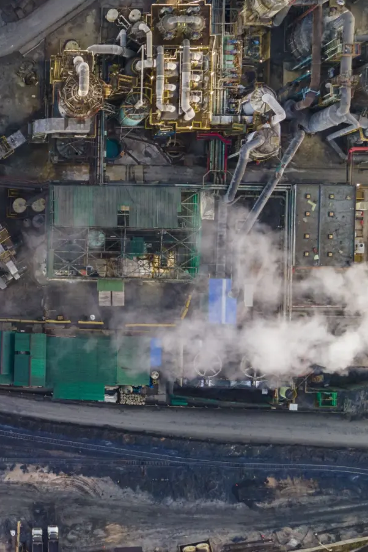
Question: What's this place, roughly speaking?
industrial area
